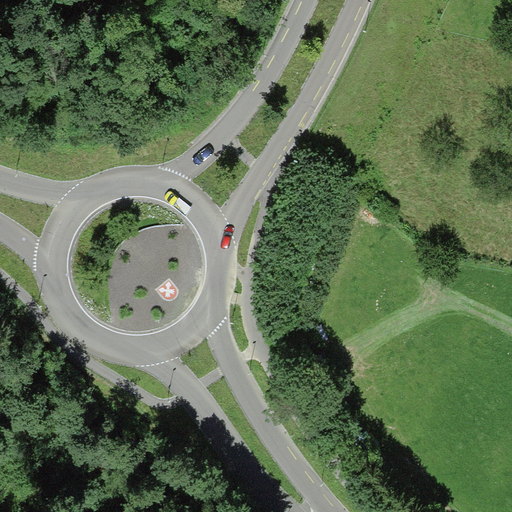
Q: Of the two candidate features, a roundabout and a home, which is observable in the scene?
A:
roundabout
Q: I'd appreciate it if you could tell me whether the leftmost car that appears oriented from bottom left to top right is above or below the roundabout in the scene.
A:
above it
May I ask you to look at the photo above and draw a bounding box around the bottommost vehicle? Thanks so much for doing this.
[221,226,234,249]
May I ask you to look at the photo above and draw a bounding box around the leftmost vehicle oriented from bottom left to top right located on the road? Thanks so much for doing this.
[193,146,214,165]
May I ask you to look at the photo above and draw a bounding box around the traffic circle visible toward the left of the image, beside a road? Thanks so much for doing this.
[38,166,236,364]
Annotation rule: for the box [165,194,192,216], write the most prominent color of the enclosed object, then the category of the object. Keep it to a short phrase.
white truck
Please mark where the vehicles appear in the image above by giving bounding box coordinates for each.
[165,194,192,216]
[221,226,234,249]
[193,146,214,165]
